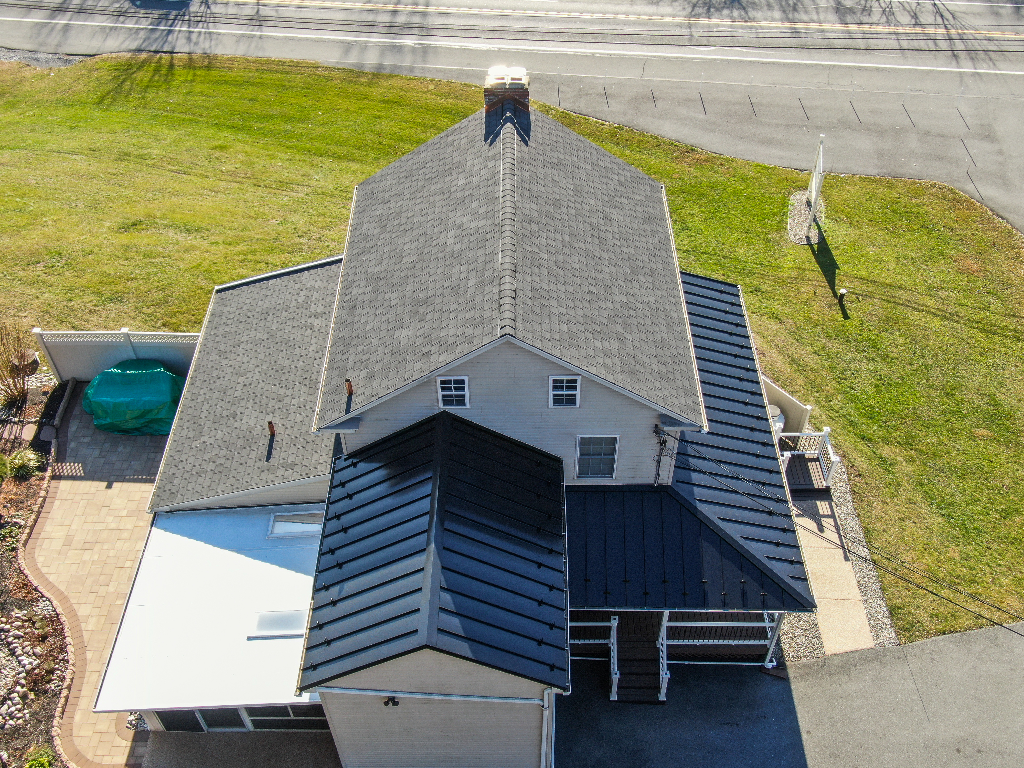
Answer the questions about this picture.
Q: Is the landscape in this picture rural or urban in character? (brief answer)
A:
urban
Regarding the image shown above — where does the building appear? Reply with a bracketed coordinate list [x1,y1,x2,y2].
[87,63,840,768]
